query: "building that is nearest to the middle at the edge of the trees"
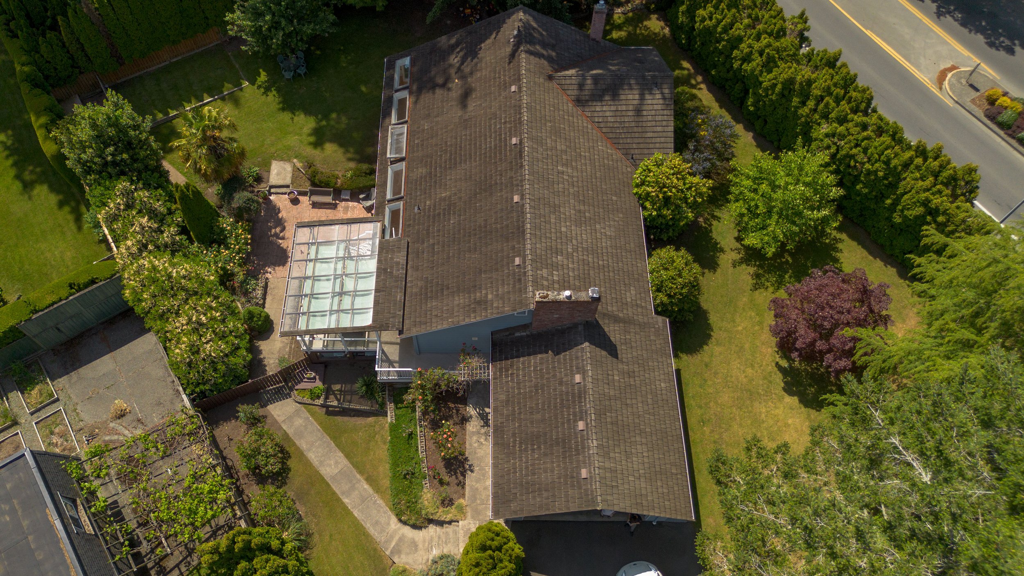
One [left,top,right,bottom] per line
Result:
[370,0,698,527]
